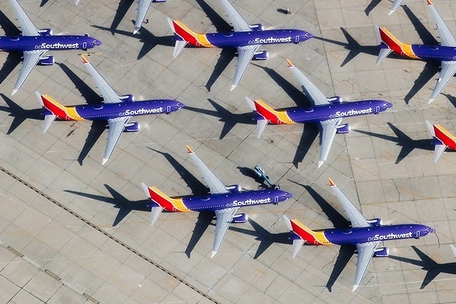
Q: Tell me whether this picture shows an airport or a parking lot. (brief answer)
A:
airport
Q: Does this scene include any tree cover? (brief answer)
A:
No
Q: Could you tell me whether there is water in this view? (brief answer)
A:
No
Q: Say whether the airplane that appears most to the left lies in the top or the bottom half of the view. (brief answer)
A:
top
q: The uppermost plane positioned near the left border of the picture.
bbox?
[0,0,100,95]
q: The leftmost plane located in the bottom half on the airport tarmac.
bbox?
[140,146,292,259]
